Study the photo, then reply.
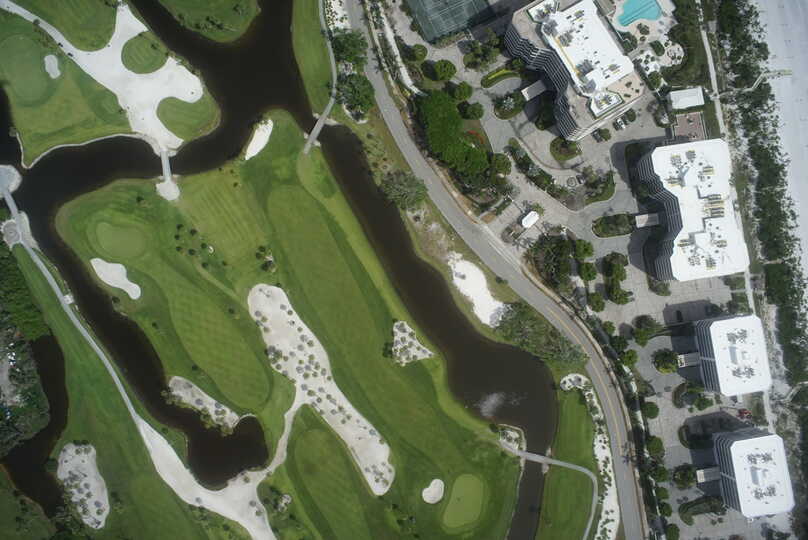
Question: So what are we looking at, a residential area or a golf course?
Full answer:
The picture captures a golf course.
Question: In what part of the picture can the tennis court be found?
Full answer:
The tennis court sits in the top section of the image.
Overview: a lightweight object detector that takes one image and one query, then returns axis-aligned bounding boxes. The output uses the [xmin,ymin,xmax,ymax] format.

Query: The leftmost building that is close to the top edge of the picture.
[506,0,645,139]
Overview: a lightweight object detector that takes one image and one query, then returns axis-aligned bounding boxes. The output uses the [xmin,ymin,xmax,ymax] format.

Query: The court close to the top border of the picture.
[413,0,489,41]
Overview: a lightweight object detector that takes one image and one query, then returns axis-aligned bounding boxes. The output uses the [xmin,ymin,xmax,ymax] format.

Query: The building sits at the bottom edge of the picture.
[695,427,795,519]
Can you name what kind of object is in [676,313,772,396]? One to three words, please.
building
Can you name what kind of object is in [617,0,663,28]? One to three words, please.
swimming pool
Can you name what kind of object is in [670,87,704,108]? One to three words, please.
building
